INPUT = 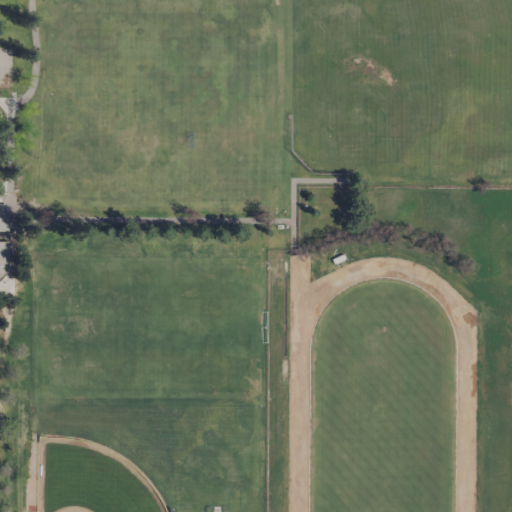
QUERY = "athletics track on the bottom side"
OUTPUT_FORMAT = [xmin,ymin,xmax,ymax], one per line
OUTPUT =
[289,255,478,512]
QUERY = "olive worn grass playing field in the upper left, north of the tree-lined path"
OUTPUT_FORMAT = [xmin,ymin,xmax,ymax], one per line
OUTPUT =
[44,0,276,206]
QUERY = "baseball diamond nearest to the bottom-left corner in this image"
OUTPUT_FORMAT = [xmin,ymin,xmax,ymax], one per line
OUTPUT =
[38,436,166,512]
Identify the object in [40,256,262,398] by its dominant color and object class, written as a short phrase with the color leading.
green sports field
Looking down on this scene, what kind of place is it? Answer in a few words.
sports ground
